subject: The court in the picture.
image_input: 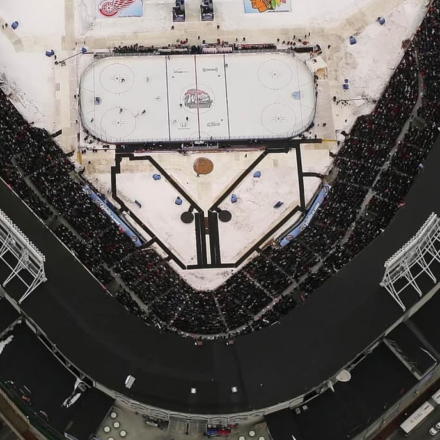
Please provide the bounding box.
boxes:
[80,43,315,152]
